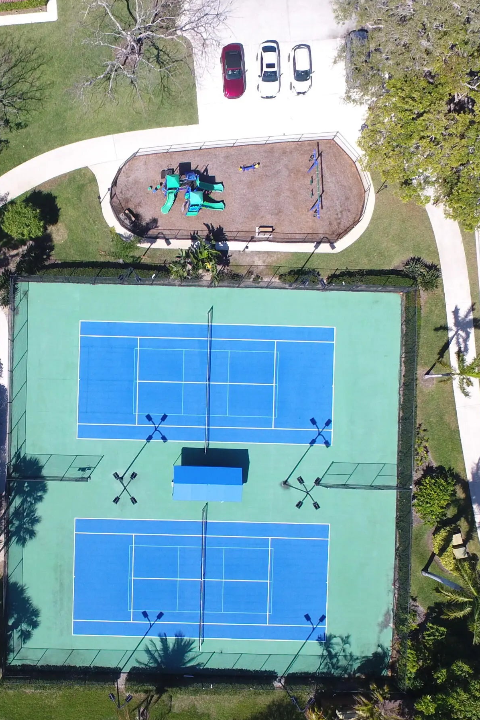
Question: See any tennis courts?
Yes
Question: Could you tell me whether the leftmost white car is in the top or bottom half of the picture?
top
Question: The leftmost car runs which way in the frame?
vertically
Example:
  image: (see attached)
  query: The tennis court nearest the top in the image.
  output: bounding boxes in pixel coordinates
[9,282,402,485]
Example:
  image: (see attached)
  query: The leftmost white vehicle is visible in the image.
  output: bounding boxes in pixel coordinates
[259,39,285,95]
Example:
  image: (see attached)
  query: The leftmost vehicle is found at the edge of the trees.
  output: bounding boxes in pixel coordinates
[224,40,249,97]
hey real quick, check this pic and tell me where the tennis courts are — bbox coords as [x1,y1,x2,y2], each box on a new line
[9,282,402,485]
[5,475,396,679]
